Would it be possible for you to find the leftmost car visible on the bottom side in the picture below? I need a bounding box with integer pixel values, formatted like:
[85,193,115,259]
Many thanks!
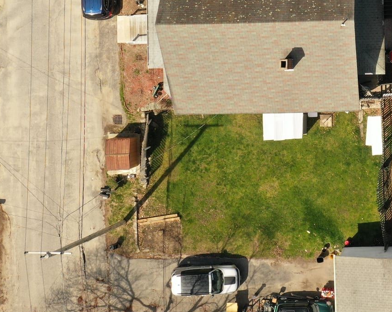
[171,263,242,299]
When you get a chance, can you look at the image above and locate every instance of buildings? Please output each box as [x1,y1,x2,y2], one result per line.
[105,130,145,177]
[155,0,362,115]
[333,247,392,312]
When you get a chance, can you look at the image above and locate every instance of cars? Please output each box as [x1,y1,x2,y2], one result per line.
[171,263,242,299]
[275,295,334,312]
[83,0,120,19]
